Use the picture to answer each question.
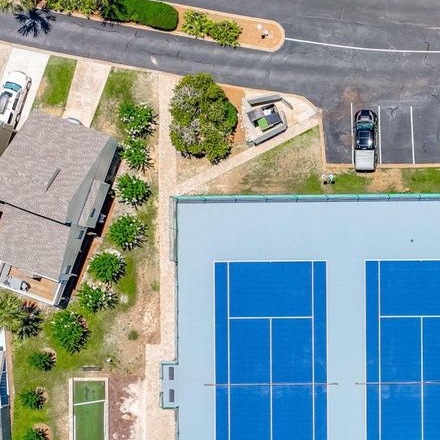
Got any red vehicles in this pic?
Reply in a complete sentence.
No, the picture doesn't show any red vehicle.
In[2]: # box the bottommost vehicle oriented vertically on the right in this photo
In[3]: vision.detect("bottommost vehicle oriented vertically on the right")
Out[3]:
[351,111,379,175]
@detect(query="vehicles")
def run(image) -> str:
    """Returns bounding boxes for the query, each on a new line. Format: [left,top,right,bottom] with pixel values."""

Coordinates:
[0,73,32,126]
[351,111,379,175]
[64,117,85,130]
